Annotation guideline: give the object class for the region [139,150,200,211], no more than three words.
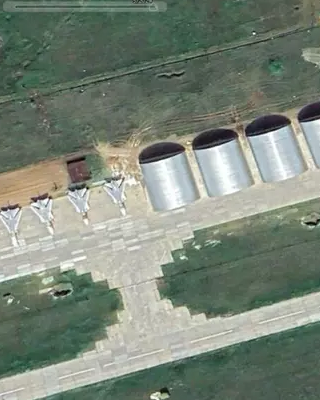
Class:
hangar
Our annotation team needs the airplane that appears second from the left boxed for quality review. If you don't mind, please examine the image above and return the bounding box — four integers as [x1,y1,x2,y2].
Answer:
[32,195,54,236]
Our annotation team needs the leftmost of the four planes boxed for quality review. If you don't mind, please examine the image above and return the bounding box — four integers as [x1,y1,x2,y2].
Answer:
[0,207,21,248]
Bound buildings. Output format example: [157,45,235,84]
[298,116,320,169]
[246,123,309,183]
[139,150,200,211]
[193,136,254,198]
[66,157,92,184]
